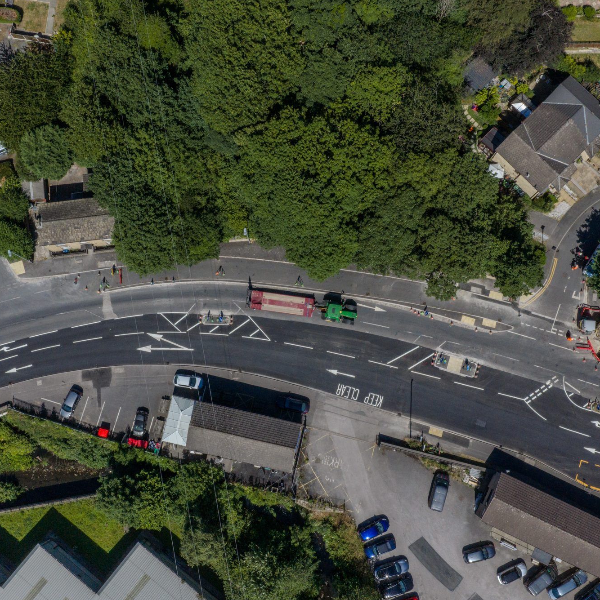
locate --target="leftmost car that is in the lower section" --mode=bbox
[59,388,81,420]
